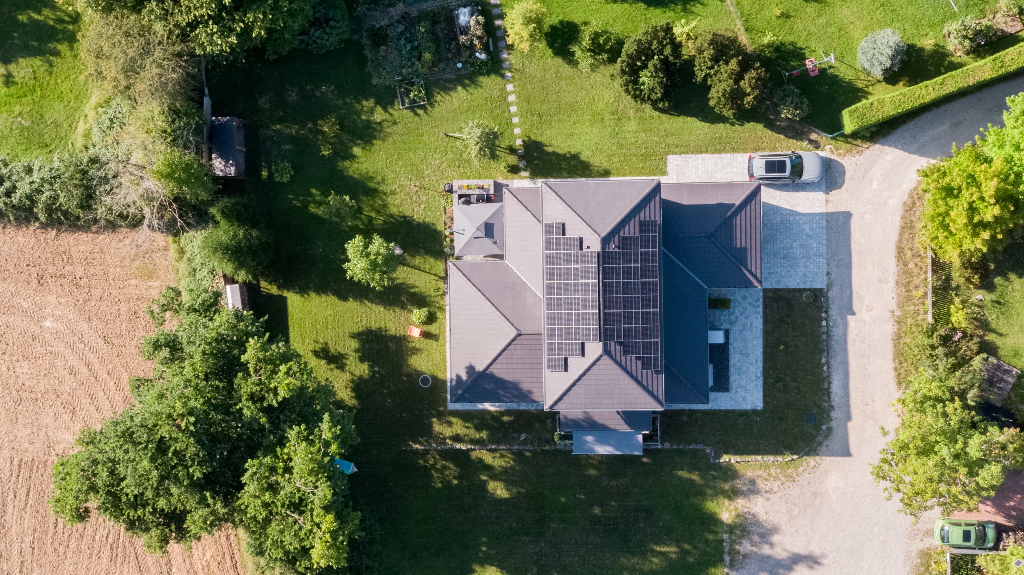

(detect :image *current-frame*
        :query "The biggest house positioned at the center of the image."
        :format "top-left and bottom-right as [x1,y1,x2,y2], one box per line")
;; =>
[447,177,764,413]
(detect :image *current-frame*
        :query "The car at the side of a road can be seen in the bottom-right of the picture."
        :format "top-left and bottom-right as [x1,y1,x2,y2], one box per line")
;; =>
[931,517,996,554]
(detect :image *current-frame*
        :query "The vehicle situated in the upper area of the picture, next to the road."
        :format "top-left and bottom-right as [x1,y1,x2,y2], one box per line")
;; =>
[747,148,823,183]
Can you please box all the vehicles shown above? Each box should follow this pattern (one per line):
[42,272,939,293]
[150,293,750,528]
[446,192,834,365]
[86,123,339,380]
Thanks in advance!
[931,517,996,554]
[747,148,823,183]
